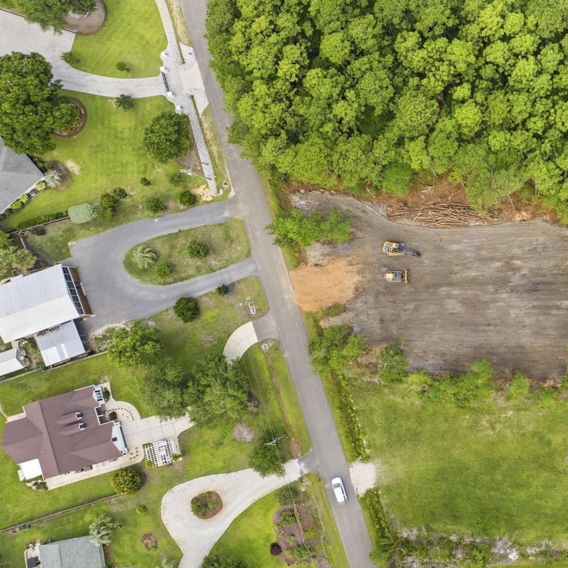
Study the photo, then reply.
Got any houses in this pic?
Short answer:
Yes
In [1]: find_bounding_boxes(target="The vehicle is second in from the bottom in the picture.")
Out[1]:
[388,269,409,285]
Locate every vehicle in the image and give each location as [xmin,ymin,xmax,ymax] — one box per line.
[330,475,347,505]
[385,241,421,257]
[388,269,409,285]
